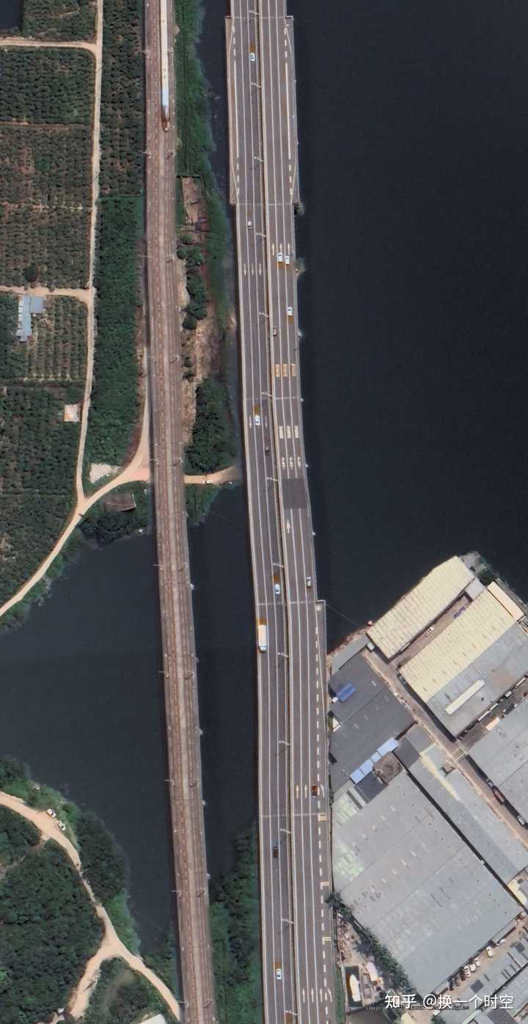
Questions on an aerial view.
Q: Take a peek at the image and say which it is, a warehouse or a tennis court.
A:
warehouse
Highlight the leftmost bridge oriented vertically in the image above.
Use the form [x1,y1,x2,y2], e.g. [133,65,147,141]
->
[145,0,216,1024]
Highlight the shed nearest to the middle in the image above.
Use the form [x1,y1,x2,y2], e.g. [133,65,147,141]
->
[104,492,137,511]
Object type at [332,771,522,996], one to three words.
warehouse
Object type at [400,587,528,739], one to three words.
warehouse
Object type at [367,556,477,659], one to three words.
building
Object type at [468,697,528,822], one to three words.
building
